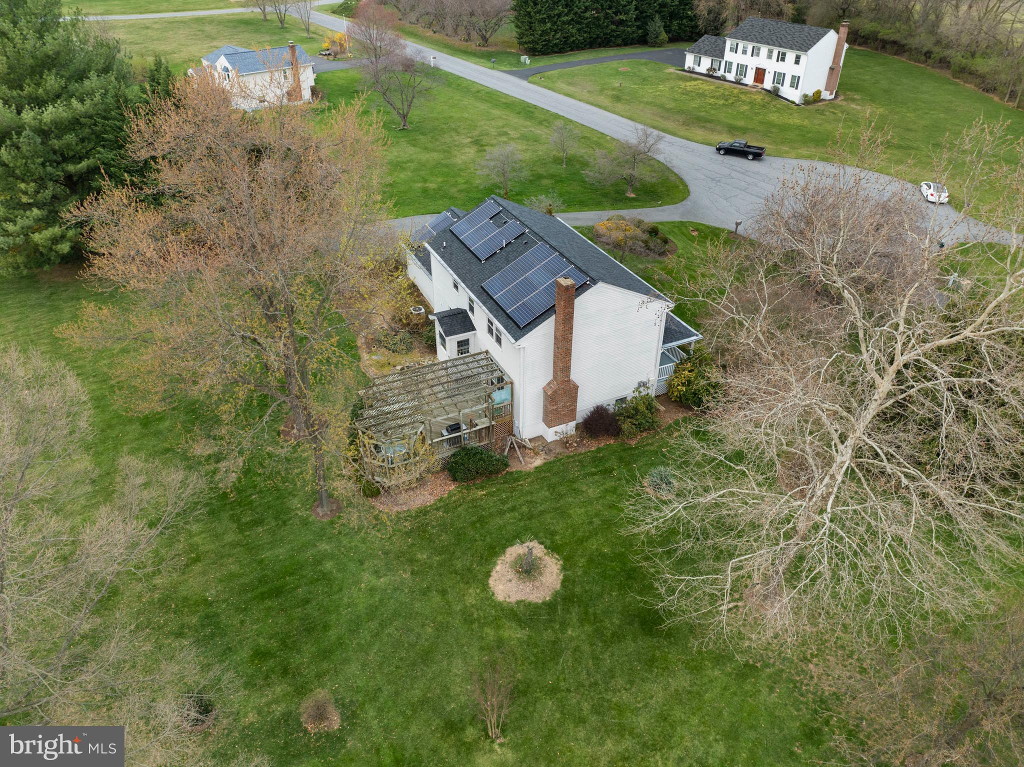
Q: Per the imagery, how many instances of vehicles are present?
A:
2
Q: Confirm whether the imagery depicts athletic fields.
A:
No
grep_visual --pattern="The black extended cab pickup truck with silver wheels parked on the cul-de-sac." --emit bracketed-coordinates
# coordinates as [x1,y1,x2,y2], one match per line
[713,137,769,160]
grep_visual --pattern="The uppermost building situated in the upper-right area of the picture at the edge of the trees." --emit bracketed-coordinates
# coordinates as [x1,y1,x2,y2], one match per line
[695,14,854,100]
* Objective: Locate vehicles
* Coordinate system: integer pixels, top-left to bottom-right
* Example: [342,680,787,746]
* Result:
[918,180,951,203]
[713,137,769,160]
